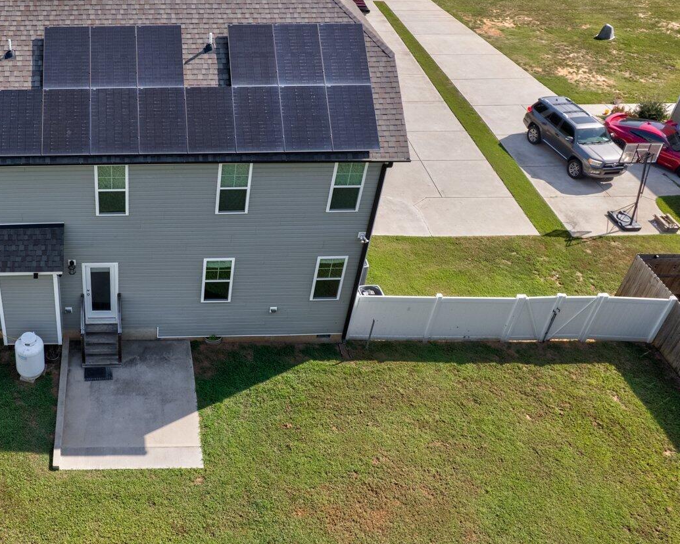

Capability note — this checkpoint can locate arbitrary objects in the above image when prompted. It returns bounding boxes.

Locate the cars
[525,96,635,185]
[607,107,680,169]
